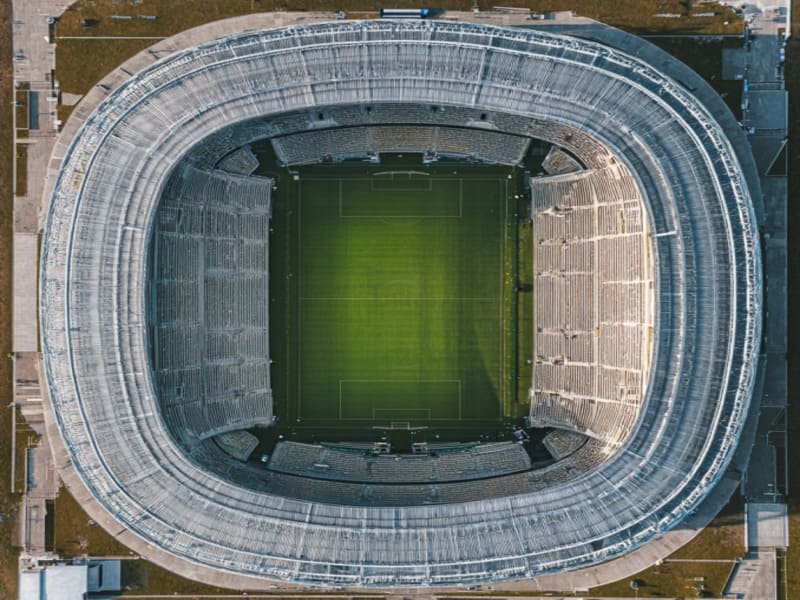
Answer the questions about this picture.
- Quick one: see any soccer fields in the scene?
Yes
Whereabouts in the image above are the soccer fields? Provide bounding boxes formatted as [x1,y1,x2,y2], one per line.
[287,168,505,433]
